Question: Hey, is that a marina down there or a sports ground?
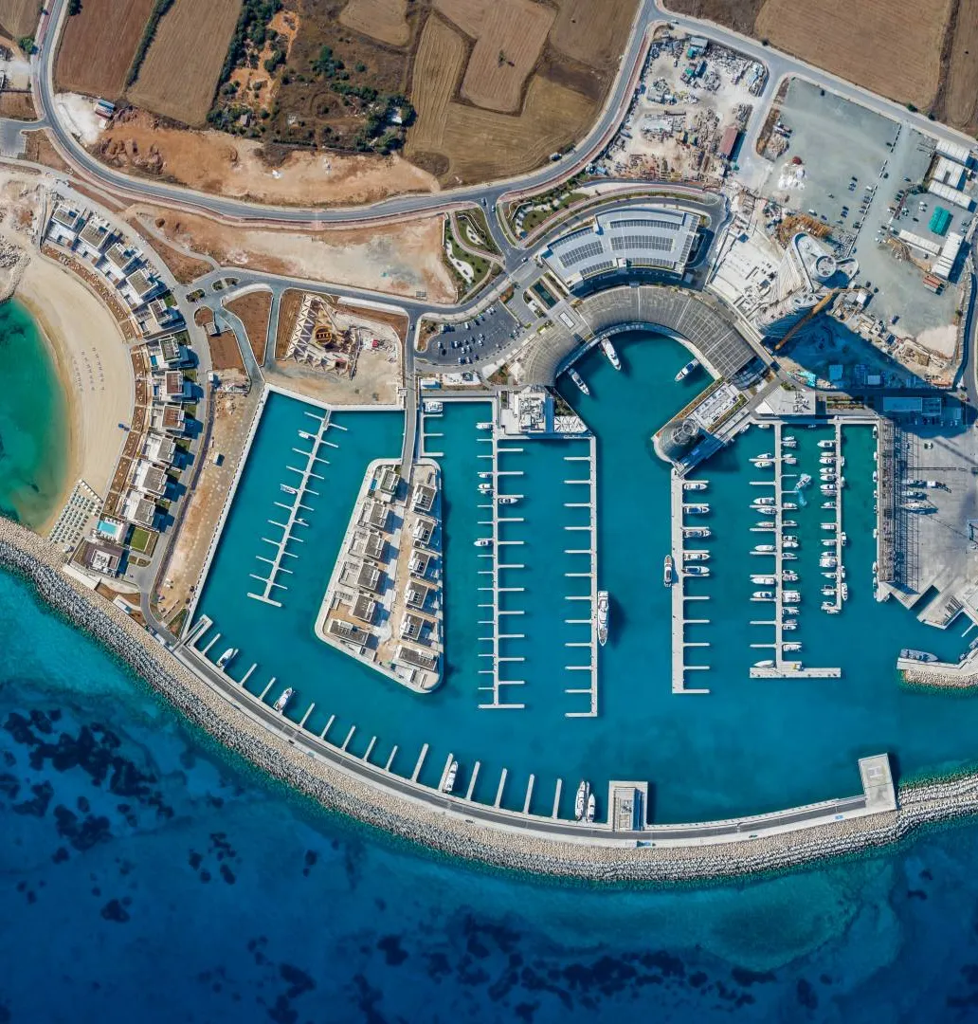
marina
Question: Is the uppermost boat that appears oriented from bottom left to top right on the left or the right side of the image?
right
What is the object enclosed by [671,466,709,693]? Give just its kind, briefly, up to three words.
pier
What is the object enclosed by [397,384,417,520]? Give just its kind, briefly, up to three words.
bridge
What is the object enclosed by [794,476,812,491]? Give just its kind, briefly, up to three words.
boat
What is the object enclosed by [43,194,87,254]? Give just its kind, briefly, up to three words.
house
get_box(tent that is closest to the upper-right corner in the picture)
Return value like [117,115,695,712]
[928,206,955,236]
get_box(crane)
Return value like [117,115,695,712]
[775,288,888,350]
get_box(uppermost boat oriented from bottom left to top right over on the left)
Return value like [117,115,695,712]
[217,649,234,668]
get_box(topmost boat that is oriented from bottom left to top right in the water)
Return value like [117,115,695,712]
[676,358,701,380]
